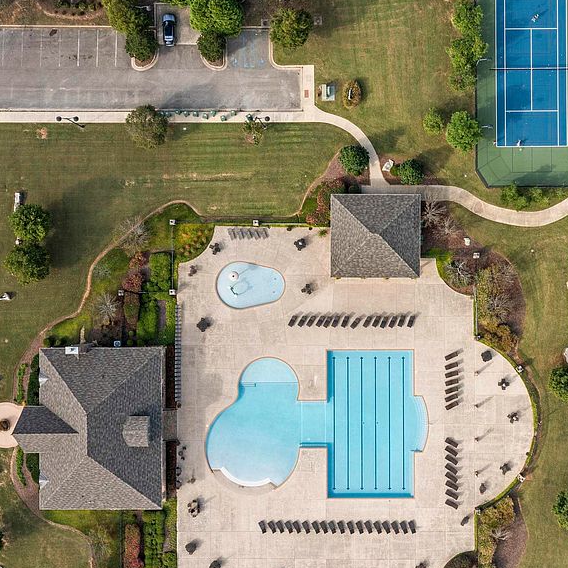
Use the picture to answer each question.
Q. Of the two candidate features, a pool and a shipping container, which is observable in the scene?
pool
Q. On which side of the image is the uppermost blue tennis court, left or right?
right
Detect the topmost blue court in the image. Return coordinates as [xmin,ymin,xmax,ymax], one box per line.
[496,0,568,147]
